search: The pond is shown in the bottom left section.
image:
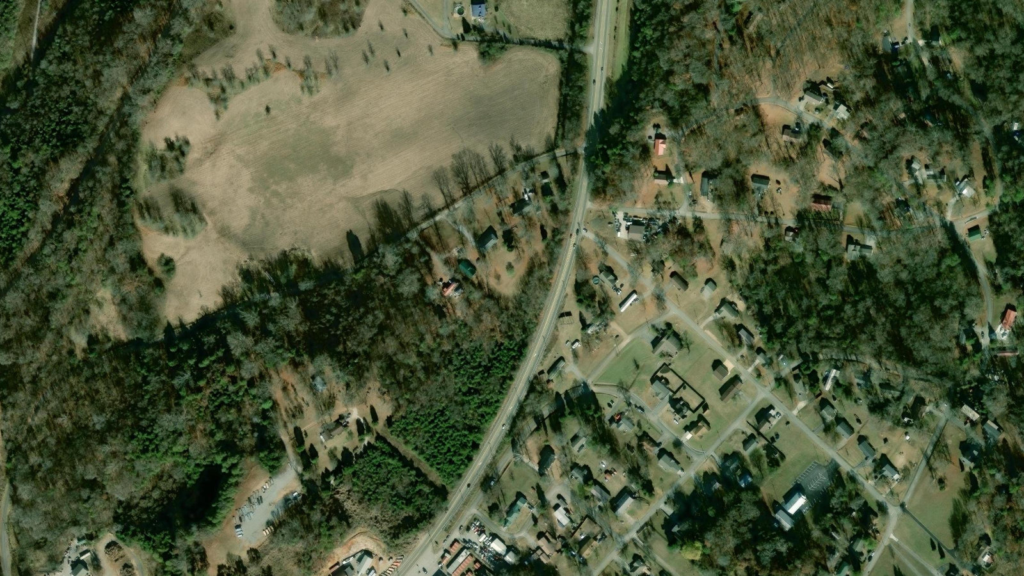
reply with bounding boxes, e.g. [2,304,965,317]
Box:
[154,462,223,530]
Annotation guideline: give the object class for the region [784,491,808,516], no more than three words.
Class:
building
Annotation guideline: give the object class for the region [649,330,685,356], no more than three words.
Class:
house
